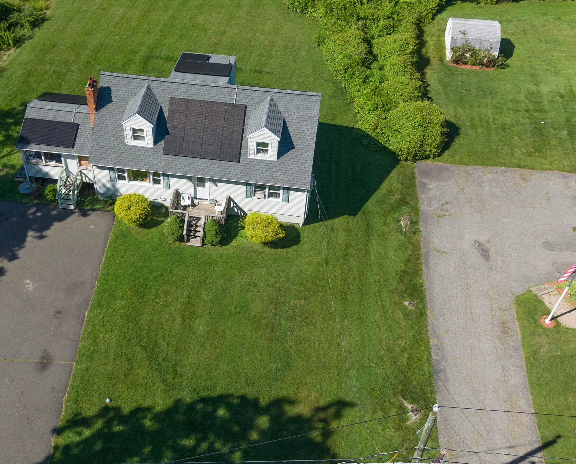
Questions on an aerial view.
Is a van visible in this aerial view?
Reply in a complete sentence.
No, there isn't any van down there.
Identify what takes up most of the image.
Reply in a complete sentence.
Most of the picture is covered by grass.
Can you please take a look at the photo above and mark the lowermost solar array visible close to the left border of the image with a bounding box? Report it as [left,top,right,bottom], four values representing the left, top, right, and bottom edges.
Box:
[18,117,78,147]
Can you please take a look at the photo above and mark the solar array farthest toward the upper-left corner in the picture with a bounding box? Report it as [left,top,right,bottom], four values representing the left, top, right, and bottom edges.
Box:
[34,90,86,103]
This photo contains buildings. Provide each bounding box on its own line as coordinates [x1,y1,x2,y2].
[444,16,505,62]
[16,54,321,229]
